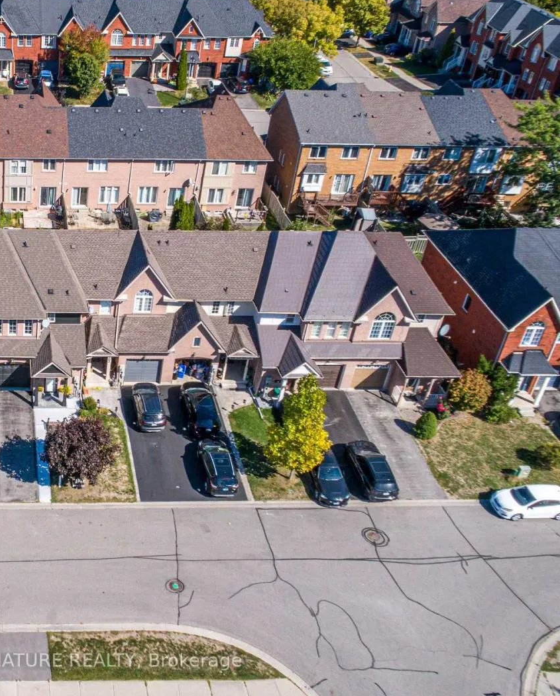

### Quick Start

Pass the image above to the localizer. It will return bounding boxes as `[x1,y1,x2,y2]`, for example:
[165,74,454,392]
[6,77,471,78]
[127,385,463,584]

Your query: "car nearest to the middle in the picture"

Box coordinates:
[183,388,224,438]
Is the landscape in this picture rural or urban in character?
urban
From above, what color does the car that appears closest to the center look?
black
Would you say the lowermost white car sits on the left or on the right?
right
